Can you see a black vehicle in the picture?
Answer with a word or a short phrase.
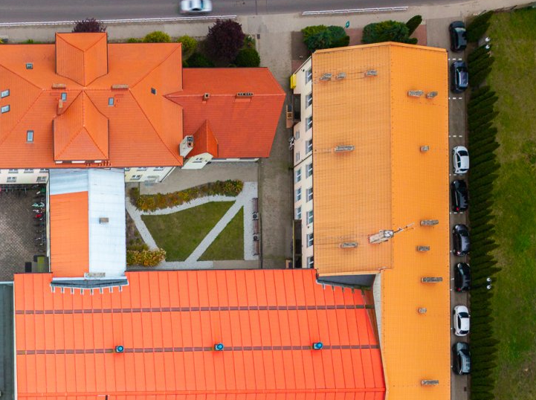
Yes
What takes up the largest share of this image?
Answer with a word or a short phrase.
buildings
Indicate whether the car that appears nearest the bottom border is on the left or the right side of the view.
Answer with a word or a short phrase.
right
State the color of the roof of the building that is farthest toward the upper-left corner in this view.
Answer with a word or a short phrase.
orange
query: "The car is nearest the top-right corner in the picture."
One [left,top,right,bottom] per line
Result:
[449,20,467,55]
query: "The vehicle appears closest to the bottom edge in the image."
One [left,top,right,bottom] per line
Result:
[451,342,471,377]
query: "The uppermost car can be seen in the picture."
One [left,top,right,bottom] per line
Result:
[179,0,213,15]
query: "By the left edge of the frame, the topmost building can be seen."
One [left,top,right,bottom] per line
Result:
[0,31,184,194]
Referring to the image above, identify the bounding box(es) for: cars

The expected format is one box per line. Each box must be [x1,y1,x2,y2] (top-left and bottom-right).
[451,224,471,257]
[452,263,470,293]
[451,342,471,377]
[450,60,469,94]
[451,180,470,213]
[451,147,470,174]
[452,306,470,337]
[449,20,467,55]
[179,0,213,15]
